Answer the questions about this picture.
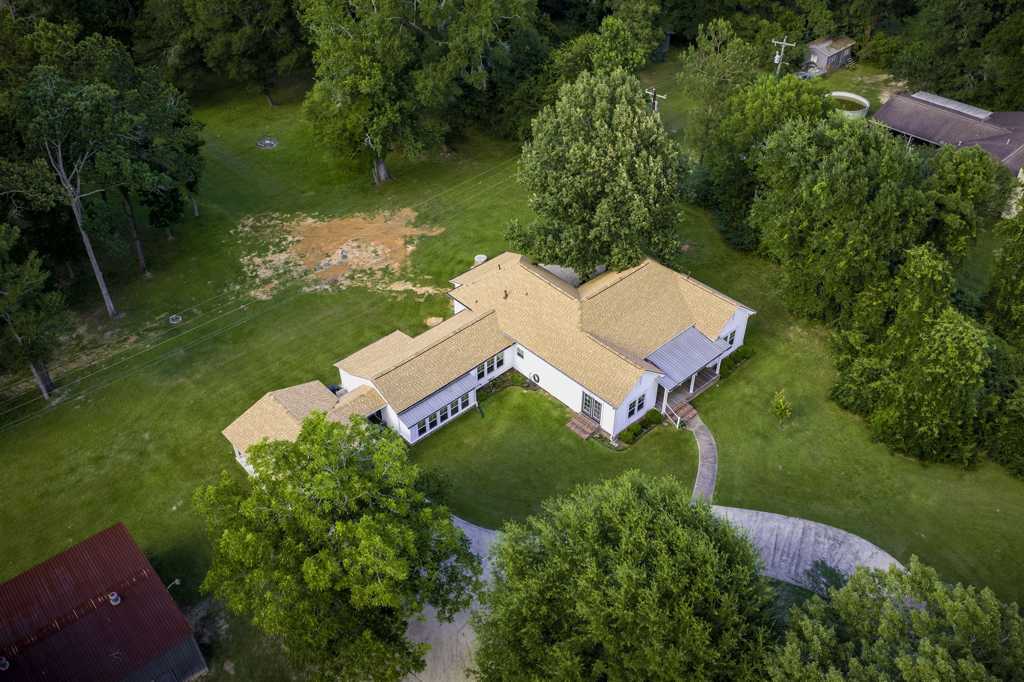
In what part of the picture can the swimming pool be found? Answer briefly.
top right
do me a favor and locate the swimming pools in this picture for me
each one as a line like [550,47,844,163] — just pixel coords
[822,92,873,122]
